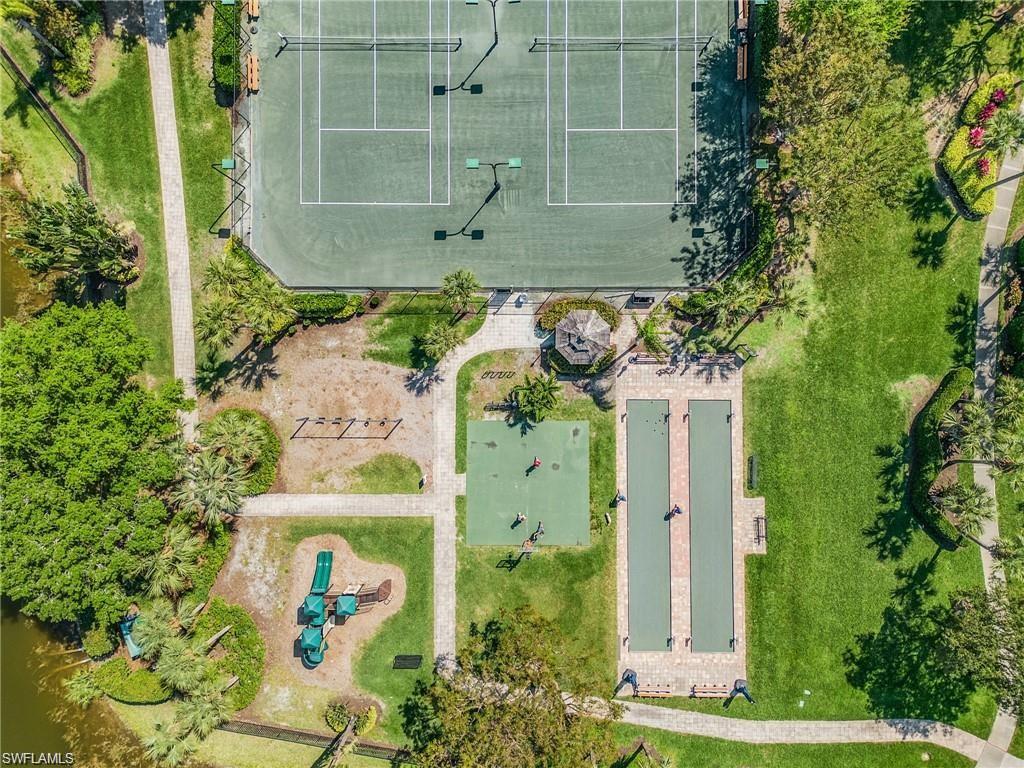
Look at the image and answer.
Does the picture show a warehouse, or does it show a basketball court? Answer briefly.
basketball court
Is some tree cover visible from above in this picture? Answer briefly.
Yes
